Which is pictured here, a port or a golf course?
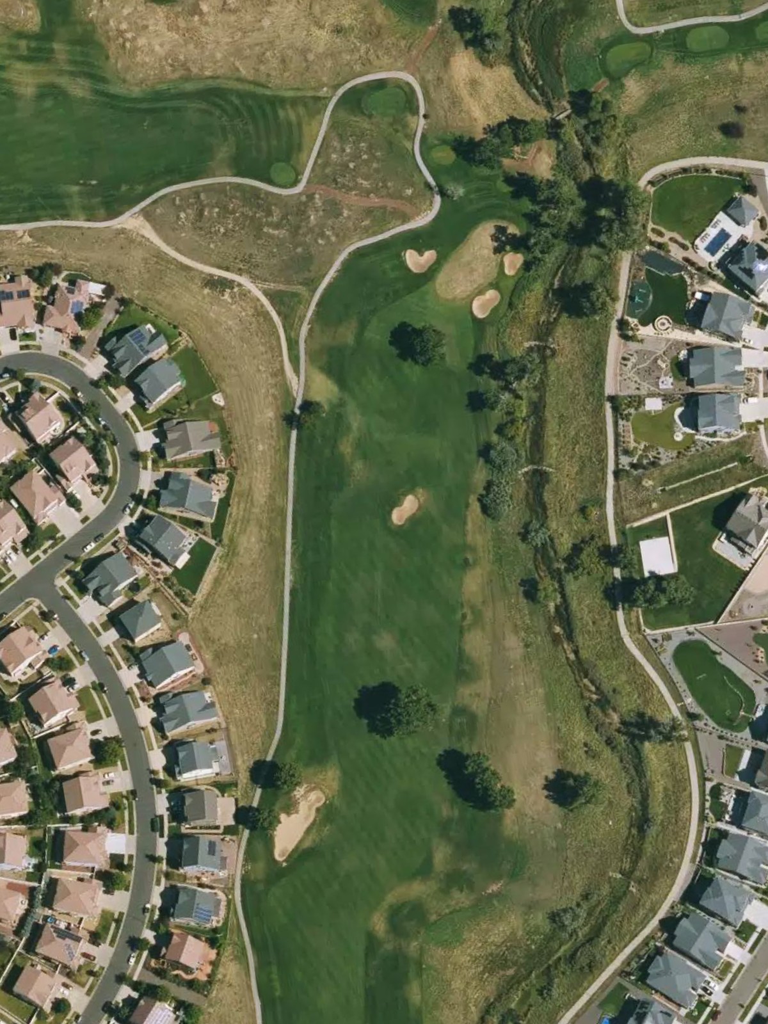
golf course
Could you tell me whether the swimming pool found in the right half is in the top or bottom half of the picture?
top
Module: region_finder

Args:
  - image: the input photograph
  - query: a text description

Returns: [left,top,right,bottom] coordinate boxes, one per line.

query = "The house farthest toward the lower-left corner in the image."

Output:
[12,965,57,1009]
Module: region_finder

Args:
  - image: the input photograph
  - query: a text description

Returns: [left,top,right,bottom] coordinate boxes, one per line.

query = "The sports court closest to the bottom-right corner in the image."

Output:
[640,537,674,577]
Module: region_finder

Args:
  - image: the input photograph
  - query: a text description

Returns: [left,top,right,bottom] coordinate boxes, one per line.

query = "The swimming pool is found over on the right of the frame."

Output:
[703,228,733,257]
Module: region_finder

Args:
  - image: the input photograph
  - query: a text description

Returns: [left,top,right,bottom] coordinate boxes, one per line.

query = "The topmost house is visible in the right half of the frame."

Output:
[725,196,758,230]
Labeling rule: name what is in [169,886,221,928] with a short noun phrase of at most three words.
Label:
house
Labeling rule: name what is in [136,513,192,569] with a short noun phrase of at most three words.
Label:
house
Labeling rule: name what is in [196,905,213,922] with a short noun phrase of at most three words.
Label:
solar panel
